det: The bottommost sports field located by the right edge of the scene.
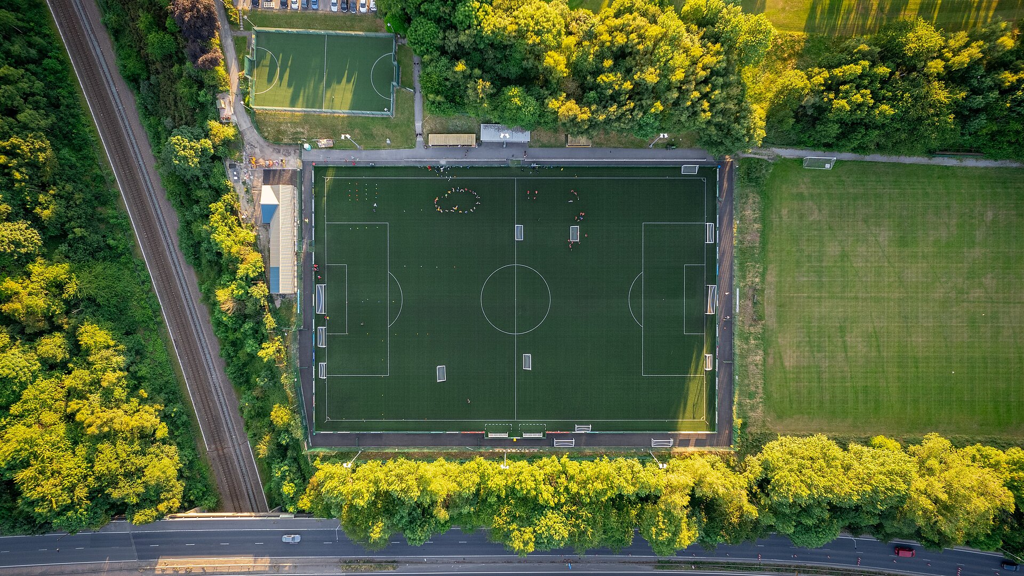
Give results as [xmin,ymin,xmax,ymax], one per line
[768,161,1024,438]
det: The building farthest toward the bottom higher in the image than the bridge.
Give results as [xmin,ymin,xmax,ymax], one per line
[258,184,300,293]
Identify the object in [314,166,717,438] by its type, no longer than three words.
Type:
soccer field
